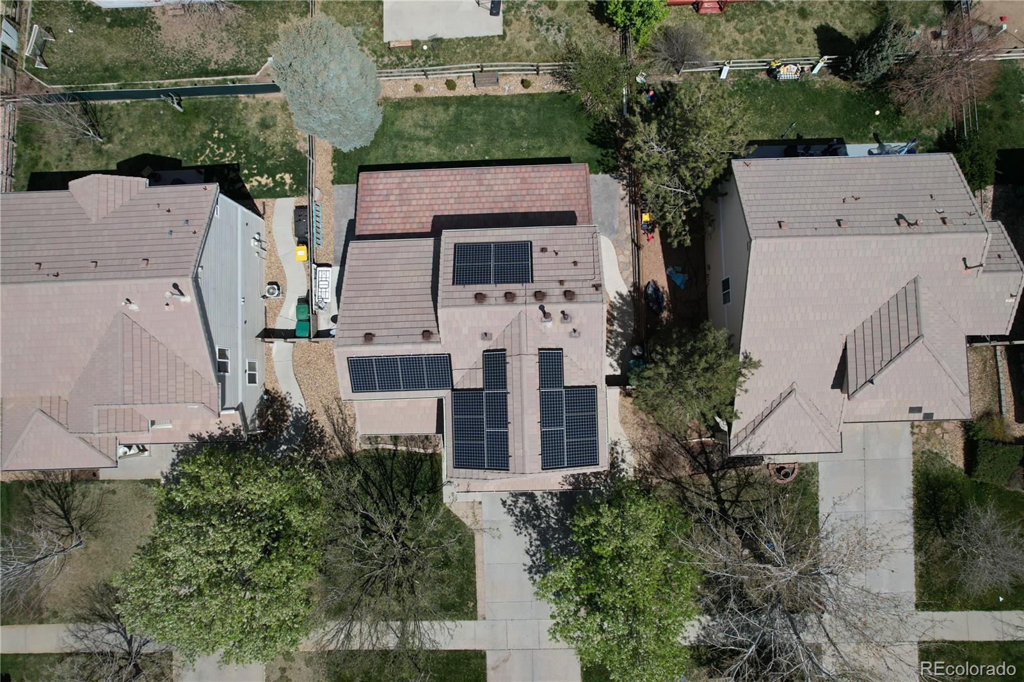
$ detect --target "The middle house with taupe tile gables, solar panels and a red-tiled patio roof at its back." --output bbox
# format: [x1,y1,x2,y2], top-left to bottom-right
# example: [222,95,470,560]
[335,162,612,496]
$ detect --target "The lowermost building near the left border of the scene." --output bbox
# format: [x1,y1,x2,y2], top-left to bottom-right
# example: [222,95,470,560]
[0,171,267,474]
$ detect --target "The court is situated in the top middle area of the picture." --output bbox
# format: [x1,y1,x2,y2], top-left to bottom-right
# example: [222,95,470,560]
[384,0,503,41]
